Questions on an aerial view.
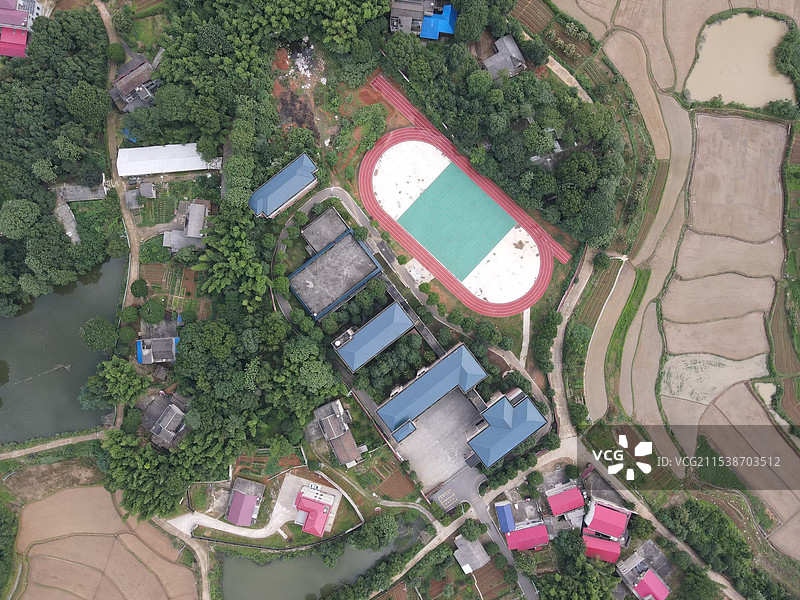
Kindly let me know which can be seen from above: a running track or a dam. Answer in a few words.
running track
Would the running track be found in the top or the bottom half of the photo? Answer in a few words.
top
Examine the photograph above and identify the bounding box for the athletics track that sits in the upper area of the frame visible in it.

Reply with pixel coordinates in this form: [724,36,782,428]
[358,74,572,317]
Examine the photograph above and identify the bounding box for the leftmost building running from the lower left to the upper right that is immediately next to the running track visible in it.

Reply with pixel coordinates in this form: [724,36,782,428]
[248,152,320,218]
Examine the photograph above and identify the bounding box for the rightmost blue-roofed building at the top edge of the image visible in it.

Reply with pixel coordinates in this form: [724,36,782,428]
[420,5,457,41]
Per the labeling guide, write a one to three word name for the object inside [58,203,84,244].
shed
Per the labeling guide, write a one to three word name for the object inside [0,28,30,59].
house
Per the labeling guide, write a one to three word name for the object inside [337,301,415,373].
building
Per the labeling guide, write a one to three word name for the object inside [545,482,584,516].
house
